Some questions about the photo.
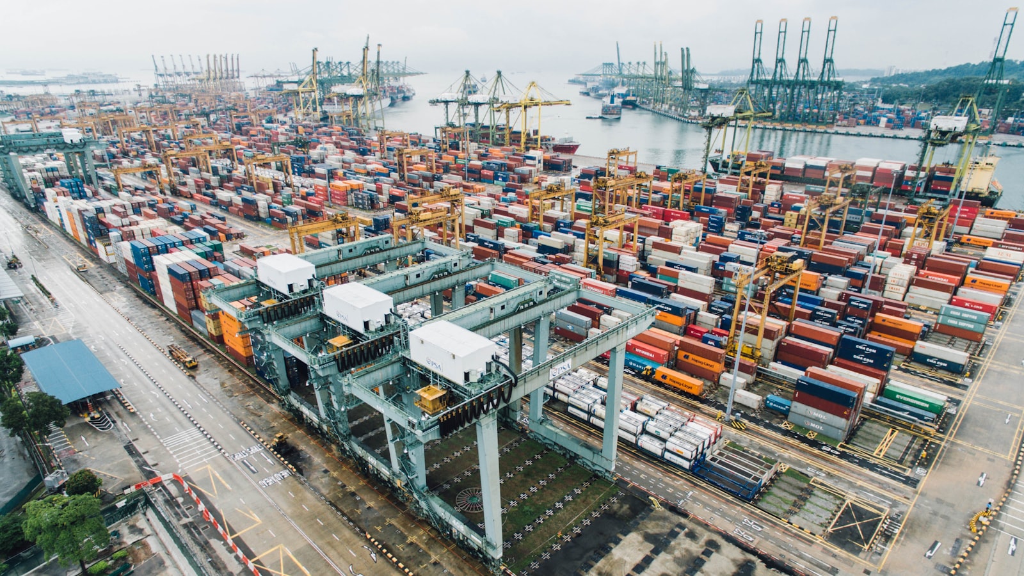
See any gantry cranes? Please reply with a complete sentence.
Yes, this view includes a gantry crane.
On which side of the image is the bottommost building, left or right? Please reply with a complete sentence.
The bottommost building sits on the left side.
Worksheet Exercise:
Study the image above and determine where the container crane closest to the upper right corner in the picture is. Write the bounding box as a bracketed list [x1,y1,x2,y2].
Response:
[968,8,1012,141]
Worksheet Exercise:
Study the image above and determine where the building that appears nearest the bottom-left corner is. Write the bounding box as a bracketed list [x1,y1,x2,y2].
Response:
[37,465,71,496]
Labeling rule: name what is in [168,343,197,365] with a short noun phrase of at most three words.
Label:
truck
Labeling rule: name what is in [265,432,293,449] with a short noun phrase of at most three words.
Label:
work vehicle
